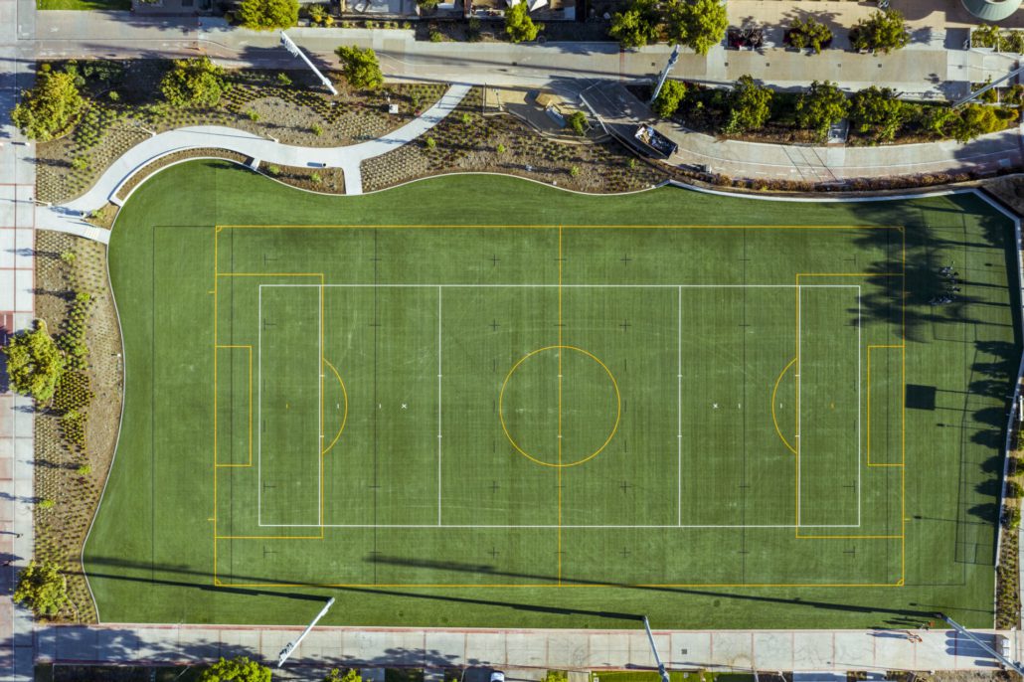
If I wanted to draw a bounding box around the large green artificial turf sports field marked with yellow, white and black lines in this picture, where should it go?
[83,159,1021,626]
